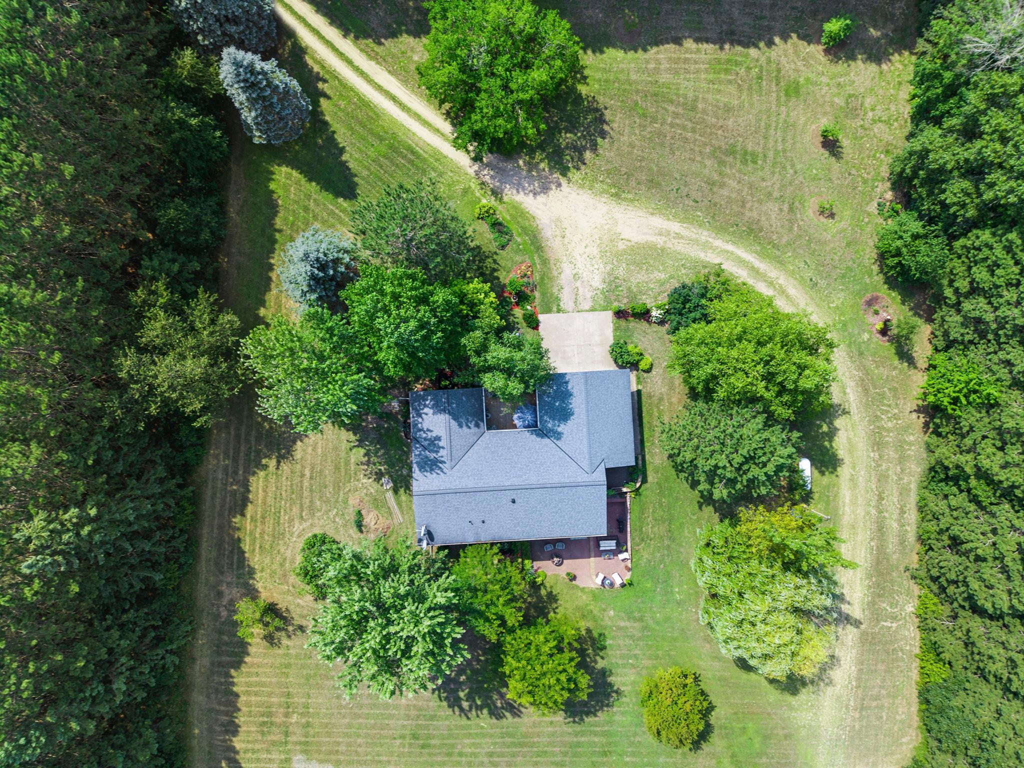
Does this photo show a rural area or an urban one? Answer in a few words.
rural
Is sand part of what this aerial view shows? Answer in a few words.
No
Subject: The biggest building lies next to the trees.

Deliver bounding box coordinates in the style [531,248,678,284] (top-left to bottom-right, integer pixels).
[397,368,637,547]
